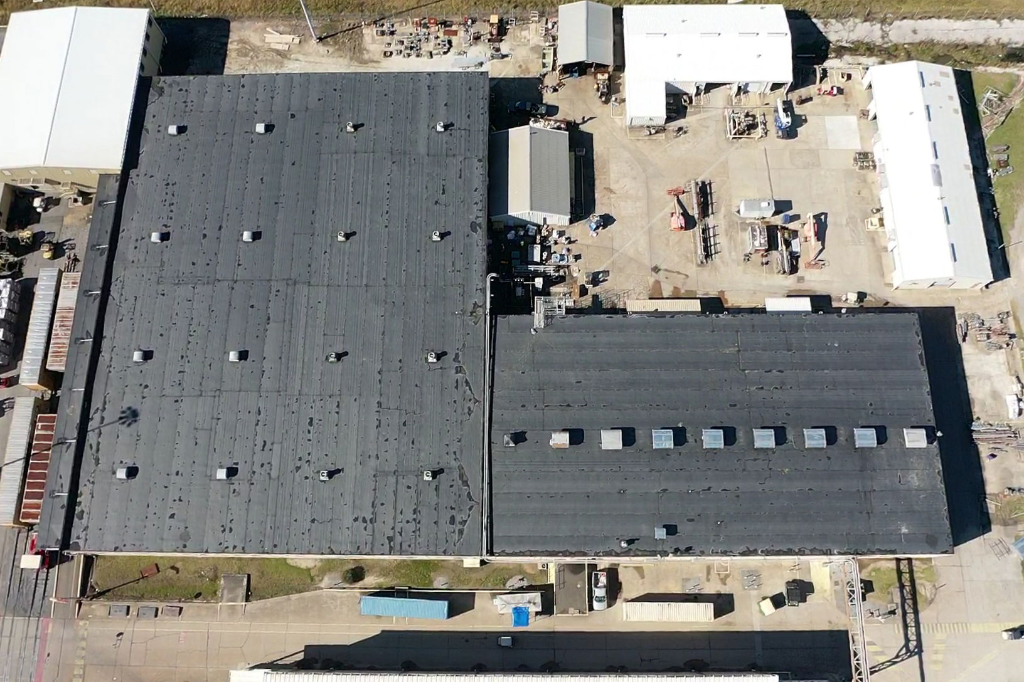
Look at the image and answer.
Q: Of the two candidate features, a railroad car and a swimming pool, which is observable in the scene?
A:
railroad car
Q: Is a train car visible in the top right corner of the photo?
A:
No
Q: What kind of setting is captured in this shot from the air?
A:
industrial area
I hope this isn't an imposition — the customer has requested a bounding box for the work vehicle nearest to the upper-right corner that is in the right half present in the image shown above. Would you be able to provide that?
[816,84,840,99]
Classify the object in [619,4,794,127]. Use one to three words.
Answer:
building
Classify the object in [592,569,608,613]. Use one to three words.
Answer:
vehicle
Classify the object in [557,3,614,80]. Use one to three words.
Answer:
shed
